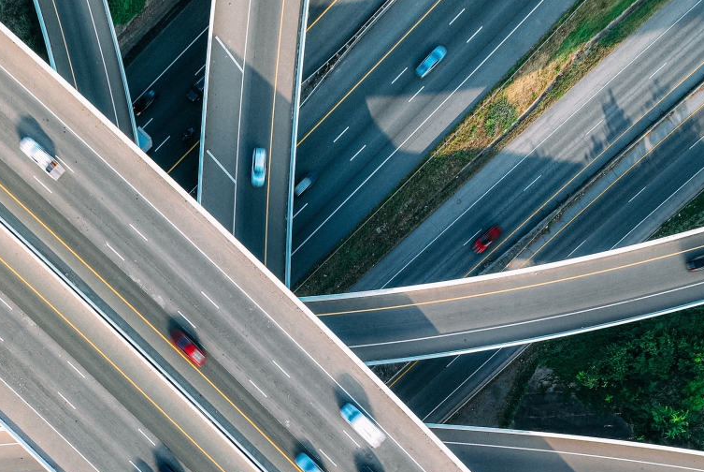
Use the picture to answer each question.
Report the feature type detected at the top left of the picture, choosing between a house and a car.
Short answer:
car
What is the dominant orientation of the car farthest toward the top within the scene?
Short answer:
at an angle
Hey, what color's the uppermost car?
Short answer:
blue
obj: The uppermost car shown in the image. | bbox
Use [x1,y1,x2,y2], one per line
[414,44,446,76]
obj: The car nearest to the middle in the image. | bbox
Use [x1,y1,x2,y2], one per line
[293,165,324,196]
